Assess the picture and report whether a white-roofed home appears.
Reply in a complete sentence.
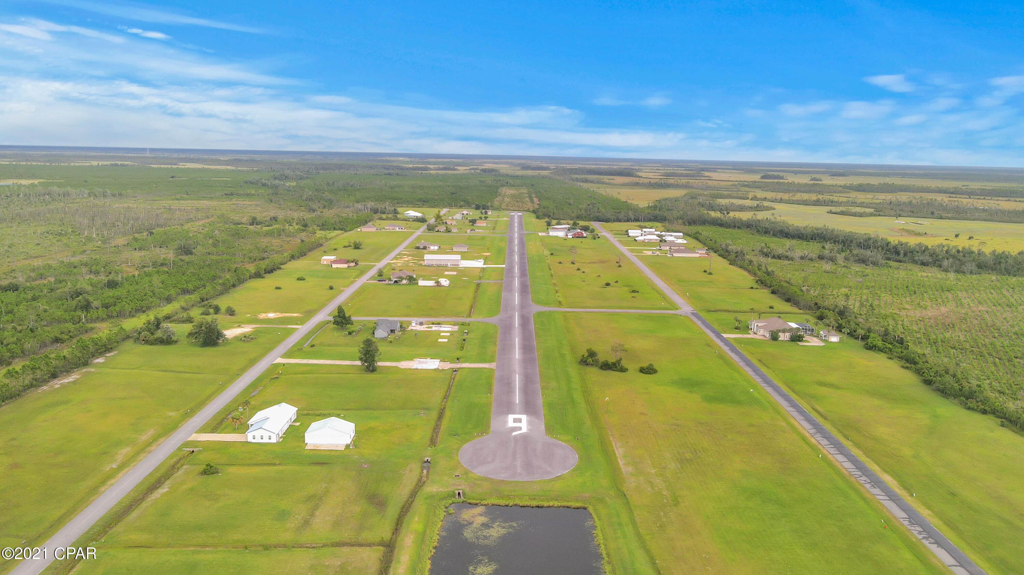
Yes, you can see a white-roofed home in this photo.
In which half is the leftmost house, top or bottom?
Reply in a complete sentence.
It is in the bottom half that the leftmost house appears.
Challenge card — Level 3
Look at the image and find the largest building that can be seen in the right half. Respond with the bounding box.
[745,320,803,341]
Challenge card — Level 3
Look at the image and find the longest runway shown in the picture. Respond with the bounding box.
[490,214,545,435]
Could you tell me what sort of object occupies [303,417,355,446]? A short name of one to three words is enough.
hangar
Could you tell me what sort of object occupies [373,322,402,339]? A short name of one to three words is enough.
house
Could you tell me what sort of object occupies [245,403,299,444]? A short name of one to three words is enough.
house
